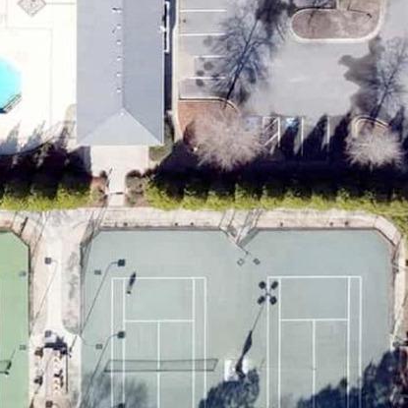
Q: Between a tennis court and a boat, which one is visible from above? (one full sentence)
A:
The image shows a tennis court.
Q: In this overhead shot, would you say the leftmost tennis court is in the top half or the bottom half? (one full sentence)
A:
It is in the bottom half that the leftmost tennis court appears.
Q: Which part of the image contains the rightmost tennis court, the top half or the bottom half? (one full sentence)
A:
The rightmost tennis court is in the bottom half of the image.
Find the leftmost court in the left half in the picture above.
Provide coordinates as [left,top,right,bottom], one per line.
[111,278,206,408]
